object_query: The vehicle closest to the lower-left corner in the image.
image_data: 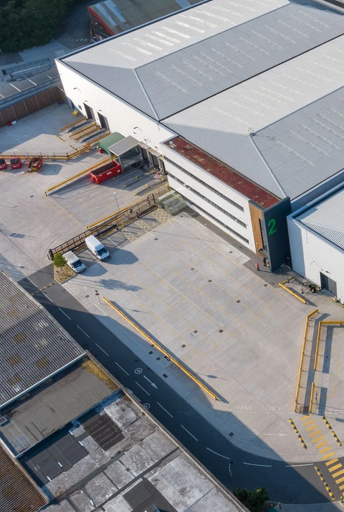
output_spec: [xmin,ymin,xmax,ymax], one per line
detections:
[62,249,86,273]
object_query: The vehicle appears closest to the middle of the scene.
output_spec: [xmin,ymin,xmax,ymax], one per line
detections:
[84,232,110,261]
